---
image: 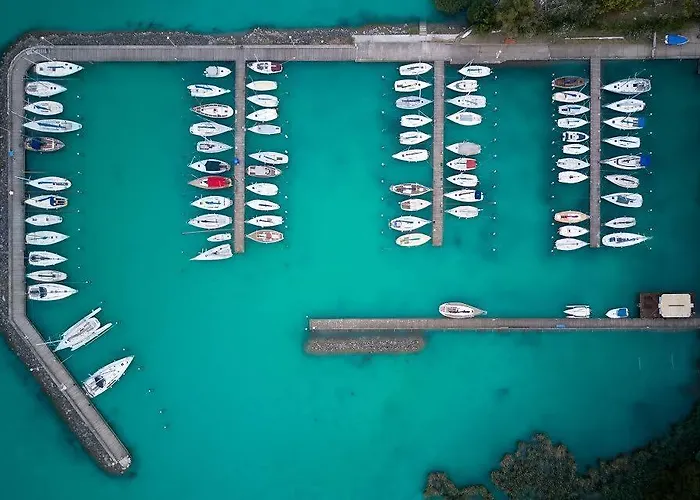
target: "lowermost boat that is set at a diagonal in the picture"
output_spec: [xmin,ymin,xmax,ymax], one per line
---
[75,352,138,403]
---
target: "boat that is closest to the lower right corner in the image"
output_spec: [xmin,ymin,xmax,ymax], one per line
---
[604,305,631,319]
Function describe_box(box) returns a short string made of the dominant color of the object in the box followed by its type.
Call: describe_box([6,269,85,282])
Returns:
white boat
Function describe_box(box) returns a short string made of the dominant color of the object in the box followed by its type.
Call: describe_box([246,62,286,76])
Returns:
white boat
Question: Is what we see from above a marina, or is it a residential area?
marina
